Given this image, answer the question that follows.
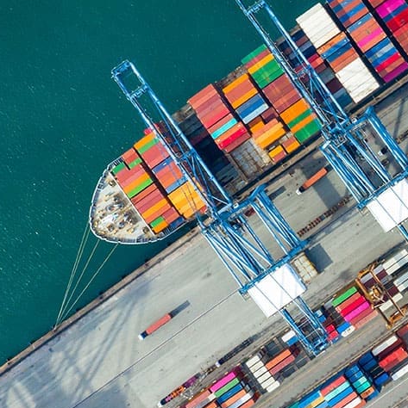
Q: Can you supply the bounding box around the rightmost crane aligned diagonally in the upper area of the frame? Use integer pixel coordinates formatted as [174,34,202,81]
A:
[235,0,408,241]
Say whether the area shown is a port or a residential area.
port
